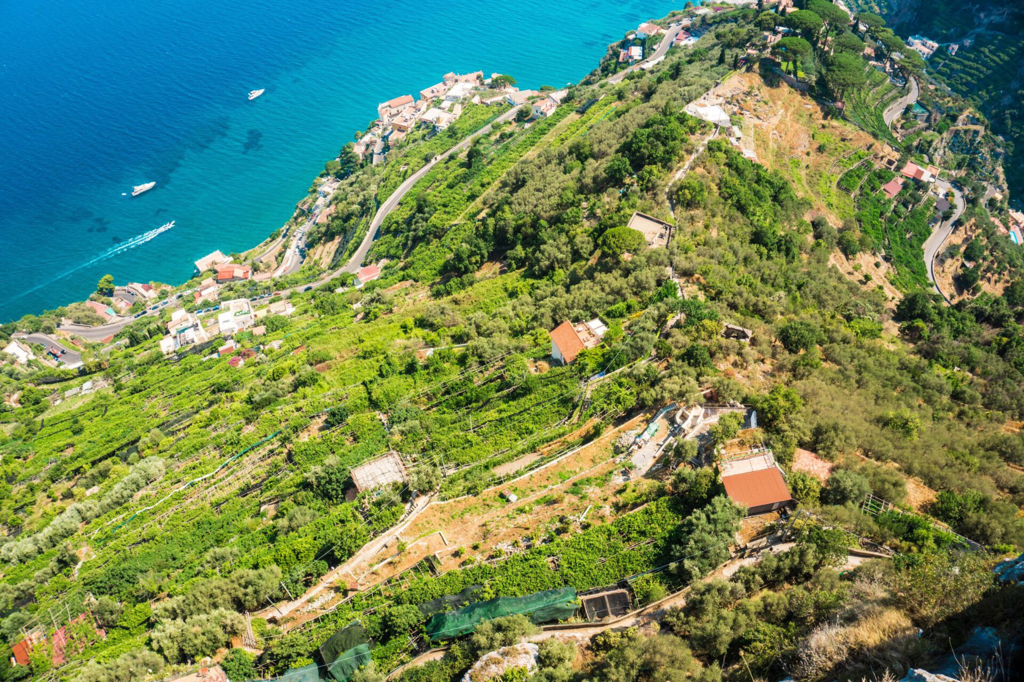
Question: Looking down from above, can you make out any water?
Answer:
Yes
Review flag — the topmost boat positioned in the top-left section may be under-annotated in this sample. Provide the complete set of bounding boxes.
[245,85,264,100]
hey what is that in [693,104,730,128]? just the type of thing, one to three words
house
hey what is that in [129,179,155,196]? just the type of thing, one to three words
boat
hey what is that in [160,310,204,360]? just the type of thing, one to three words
house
